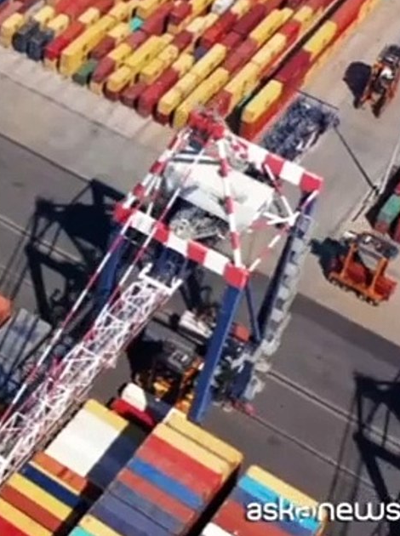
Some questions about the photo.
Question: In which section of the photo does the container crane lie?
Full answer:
You can find the container crane in the center area of the picture.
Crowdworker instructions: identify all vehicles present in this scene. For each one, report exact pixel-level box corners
[128,316,203,407]
[319,217,397,304]
[355,34,400,111]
